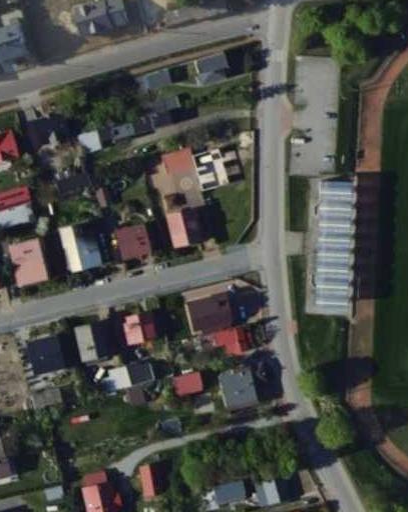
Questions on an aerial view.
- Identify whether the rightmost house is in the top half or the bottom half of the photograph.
bottom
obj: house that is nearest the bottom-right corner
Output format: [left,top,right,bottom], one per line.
[256,479,282,507]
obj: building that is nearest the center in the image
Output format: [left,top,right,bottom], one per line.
[166,208,207,249]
